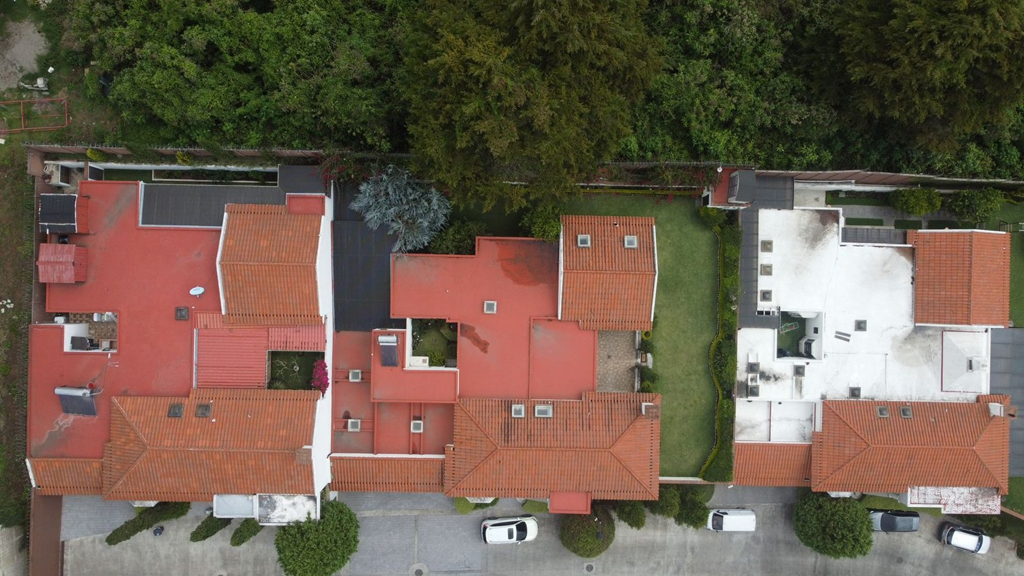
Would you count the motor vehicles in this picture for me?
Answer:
4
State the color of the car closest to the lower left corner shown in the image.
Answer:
white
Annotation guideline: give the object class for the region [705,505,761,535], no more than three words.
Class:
van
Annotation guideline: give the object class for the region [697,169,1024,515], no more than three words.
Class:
house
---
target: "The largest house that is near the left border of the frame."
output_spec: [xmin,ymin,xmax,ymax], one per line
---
[24,165,336,524]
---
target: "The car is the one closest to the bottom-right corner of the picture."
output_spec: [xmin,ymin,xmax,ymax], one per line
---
[937,518,995,556]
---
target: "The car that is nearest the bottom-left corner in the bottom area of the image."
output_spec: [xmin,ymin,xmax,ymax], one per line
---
[480,513,539,544]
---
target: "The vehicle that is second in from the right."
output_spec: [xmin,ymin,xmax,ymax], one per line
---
[864,505,923,535]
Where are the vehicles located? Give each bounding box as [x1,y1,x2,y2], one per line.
[480,513,539,544]
[864,505,923,535]
[705,505,761,535]
[937,518,995,556]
